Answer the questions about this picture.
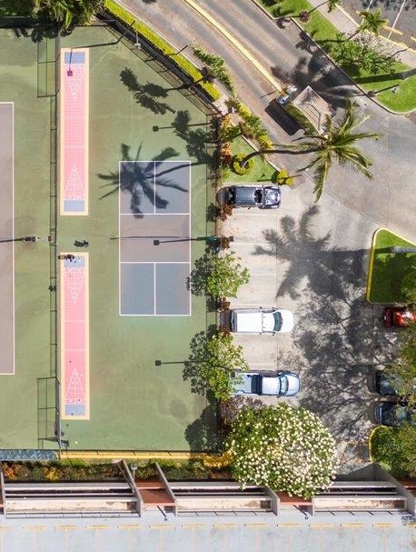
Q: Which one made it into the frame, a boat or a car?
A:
car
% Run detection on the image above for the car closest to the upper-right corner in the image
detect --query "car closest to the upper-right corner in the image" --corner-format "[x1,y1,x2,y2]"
[222,182,283,210]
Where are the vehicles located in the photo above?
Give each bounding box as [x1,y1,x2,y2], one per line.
[232,371,300,399]
[372,401,416,428]
[381,305,415,328]
[230,307,294,336]
[222,182,283,210]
